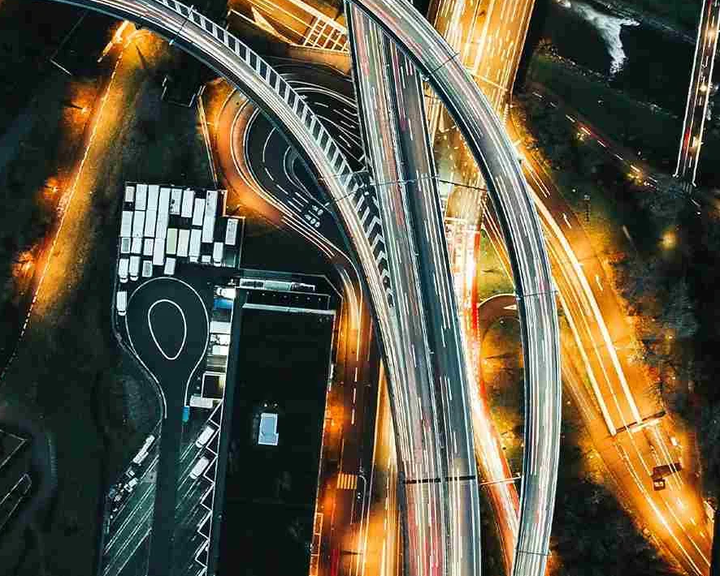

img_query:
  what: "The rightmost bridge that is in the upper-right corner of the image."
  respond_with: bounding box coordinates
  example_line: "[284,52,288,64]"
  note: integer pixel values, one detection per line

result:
[671,0,720,194]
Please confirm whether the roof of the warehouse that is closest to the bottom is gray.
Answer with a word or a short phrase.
No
